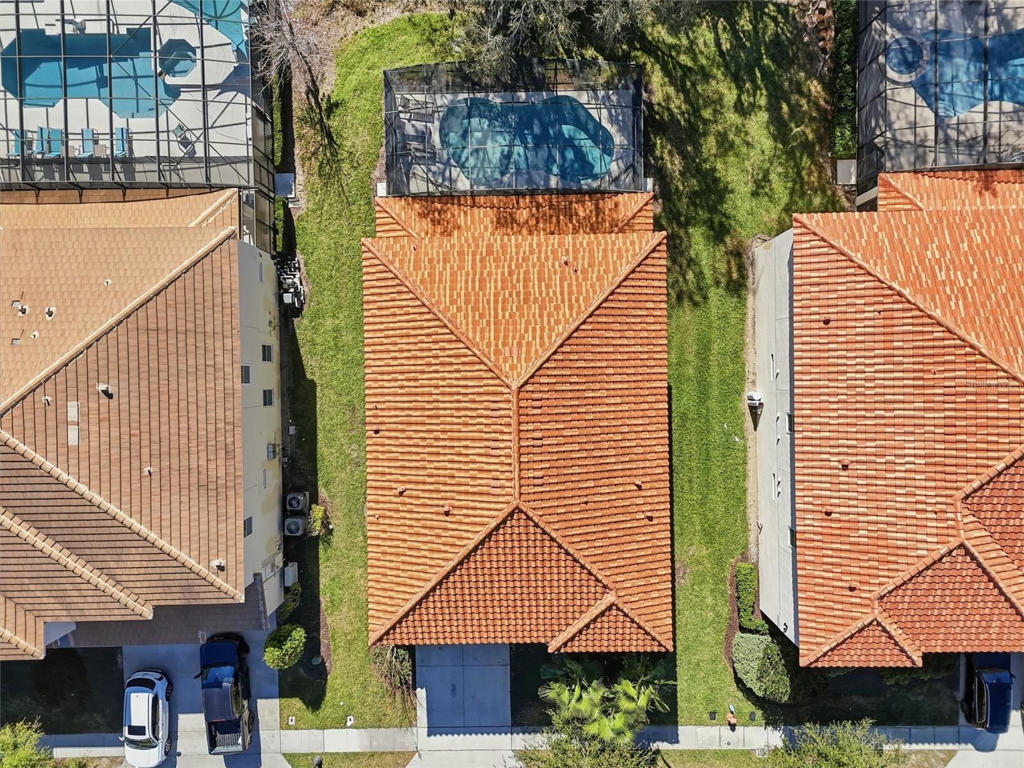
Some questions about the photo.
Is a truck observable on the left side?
Yes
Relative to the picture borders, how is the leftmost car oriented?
up and down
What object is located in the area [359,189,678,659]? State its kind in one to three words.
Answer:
house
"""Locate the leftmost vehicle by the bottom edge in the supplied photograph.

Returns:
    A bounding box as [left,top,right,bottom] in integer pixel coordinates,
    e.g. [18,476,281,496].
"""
[119,668,171,764]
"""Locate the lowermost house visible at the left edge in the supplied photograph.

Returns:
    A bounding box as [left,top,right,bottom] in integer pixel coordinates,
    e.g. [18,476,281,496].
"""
[0,187,284,664]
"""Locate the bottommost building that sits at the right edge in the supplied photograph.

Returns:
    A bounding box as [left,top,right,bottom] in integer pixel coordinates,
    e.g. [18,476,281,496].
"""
[754,167,1024,670]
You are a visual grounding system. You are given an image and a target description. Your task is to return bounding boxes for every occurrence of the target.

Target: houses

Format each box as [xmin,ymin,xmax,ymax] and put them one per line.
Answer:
[0,187,284,664]
[754,167,1024,670]
[359,189,678,659]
